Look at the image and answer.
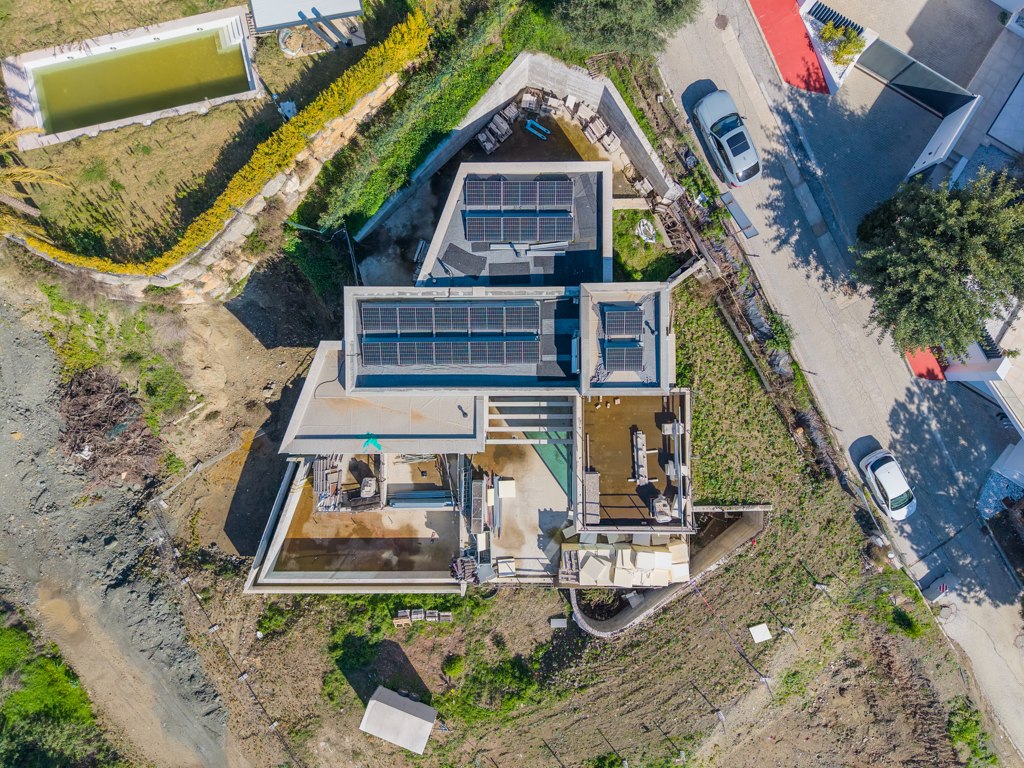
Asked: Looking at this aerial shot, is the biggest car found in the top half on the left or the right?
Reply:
right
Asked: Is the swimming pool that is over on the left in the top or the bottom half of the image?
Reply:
top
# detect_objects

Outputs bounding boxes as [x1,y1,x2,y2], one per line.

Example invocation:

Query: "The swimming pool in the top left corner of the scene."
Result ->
[2,5,269,148]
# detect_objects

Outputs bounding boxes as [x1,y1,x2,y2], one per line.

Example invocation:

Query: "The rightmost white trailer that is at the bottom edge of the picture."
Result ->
[360,687,453,753]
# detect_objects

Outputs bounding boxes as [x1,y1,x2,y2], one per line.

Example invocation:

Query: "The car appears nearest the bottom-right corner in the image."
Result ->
[858,449,916,523]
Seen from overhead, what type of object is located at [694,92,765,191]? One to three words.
car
